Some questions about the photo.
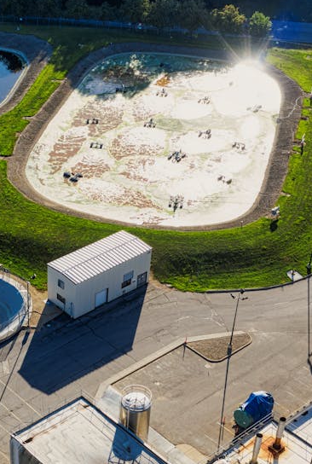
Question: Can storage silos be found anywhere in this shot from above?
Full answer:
Yes, the image includes a storage silo.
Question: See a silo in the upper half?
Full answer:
No, looking in the upper half, there is no silo.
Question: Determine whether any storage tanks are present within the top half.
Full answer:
No, within the top half there is no storage tank.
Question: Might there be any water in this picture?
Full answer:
Yes, there is water in the image.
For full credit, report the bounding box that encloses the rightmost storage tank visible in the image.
[236,394,277,432]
